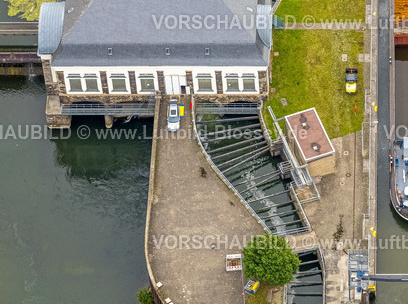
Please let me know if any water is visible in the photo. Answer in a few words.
Yes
